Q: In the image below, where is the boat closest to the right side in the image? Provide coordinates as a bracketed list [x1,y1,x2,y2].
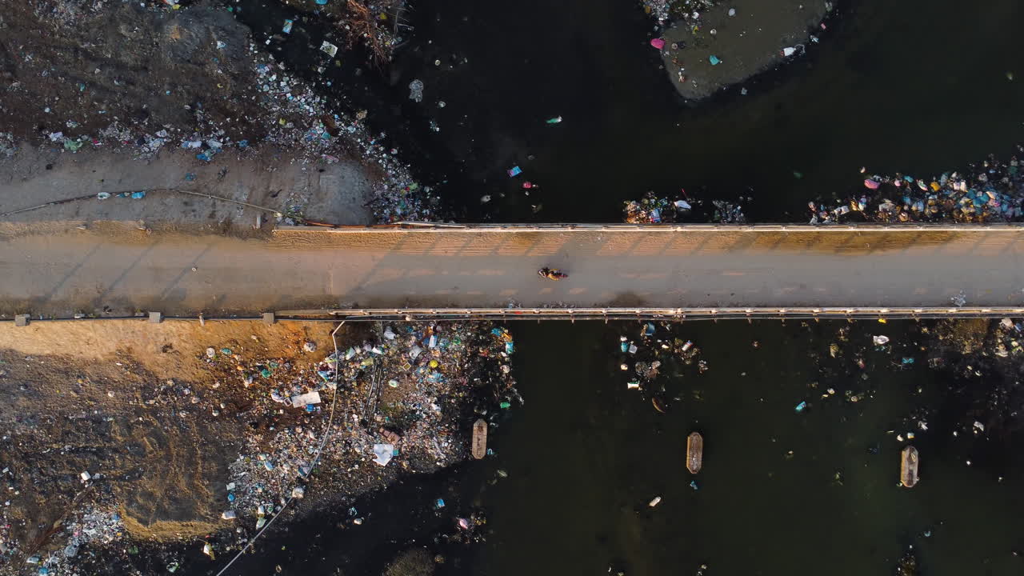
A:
[899,445,917,487]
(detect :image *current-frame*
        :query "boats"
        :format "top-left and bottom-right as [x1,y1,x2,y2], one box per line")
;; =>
[899,445,917,487]
[686,432,701,474]
[472,419,487,459]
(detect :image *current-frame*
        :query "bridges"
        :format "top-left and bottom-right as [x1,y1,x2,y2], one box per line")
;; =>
[325,225,1024,324]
